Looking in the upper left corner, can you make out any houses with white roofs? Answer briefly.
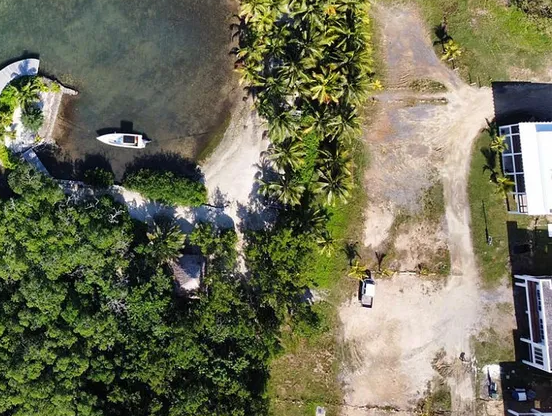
No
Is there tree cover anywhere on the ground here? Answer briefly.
Yes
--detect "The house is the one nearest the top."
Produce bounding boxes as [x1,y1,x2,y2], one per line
[500,120,552,220]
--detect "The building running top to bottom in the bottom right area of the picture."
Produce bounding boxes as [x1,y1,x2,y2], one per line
[503,270,552,372]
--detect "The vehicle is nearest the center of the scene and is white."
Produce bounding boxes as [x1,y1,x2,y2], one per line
[359,277,377,307]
